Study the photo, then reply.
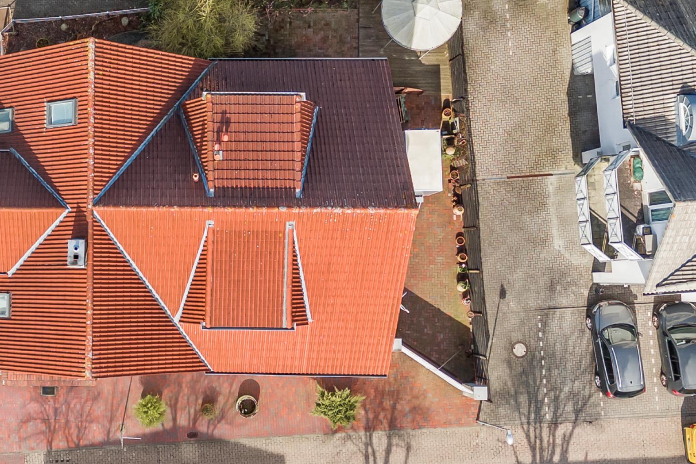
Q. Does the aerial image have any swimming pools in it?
No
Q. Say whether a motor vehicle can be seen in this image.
Yes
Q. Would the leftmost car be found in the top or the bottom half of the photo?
bottom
